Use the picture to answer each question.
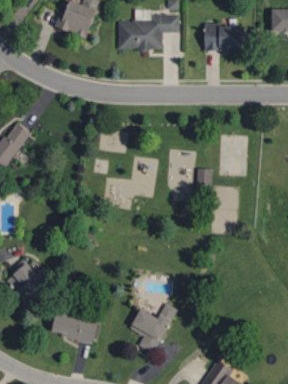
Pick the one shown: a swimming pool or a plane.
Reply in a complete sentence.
It is a swimming pool that can be seen here.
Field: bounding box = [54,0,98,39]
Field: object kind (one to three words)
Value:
house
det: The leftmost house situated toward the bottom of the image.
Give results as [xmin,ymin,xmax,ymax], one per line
[6,260,37,292]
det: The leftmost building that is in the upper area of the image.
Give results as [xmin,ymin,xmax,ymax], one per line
[0,123,32,163]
